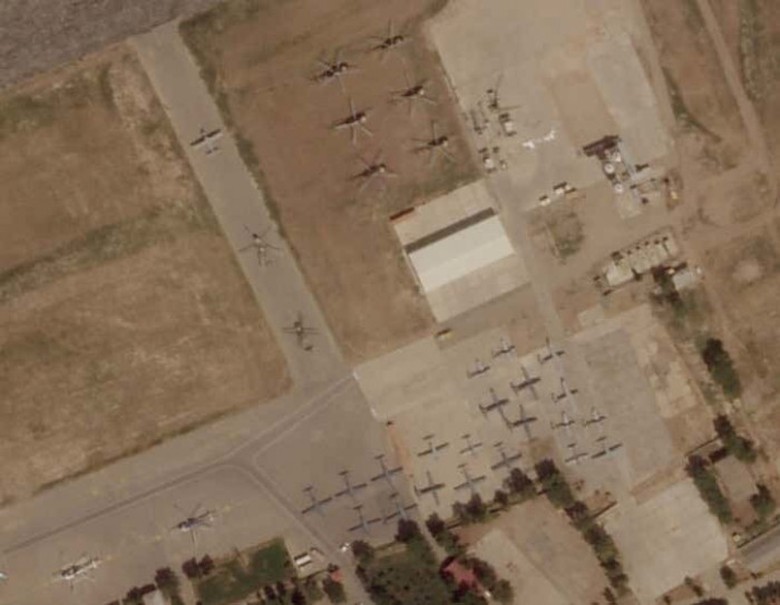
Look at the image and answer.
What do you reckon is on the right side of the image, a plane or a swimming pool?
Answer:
plane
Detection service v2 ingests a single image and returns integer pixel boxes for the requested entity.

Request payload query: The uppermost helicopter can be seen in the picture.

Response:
[366,21,412,61]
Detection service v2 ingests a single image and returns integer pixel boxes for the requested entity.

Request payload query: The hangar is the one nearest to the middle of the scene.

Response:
[409,216,515,292]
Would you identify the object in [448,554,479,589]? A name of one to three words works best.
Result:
house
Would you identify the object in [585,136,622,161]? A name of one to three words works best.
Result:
shed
